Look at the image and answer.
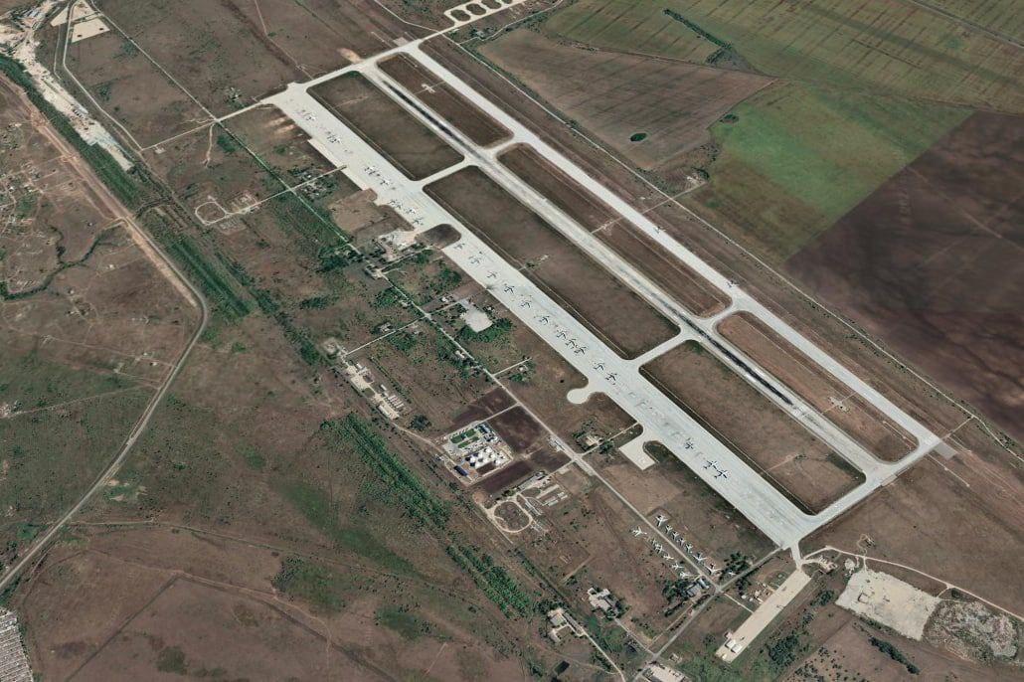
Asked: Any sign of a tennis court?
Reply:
No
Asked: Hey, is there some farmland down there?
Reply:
Yes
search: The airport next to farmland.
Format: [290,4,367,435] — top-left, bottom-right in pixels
[260,0,956,663]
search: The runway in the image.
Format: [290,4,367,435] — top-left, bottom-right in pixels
[349,57,904,489]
